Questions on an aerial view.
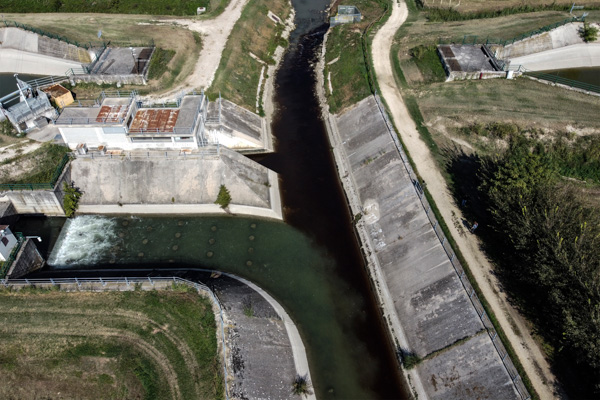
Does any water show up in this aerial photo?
Yes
